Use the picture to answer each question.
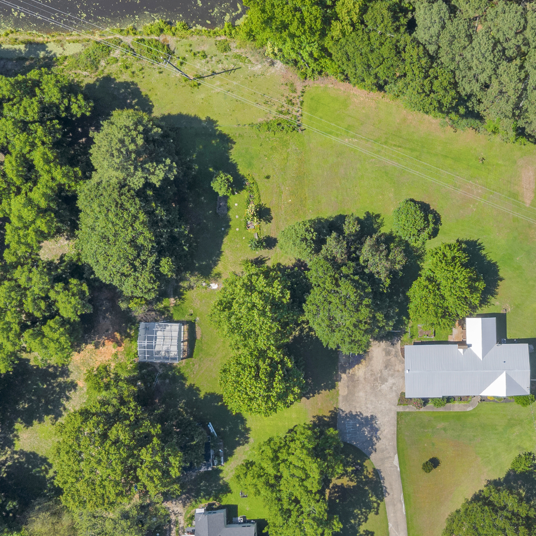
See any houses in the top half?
No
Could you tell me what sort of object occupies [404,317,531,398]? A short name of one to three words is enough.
house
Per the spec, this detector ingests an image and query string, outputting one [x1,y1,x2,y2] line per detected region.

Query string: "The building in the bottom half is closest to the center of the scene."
[137,322,193,362]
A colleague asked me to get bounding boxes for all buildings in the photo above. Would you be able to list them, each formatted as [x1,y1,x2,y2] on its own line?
[404,317,531,398]
[137,322,193,362]
[186,505,259,536]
